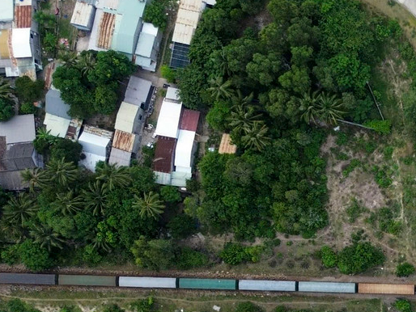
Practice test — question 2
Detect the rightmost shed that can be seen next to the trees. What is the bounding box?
[218,134,241,155]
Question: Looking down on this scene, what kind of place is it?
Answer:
residential area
